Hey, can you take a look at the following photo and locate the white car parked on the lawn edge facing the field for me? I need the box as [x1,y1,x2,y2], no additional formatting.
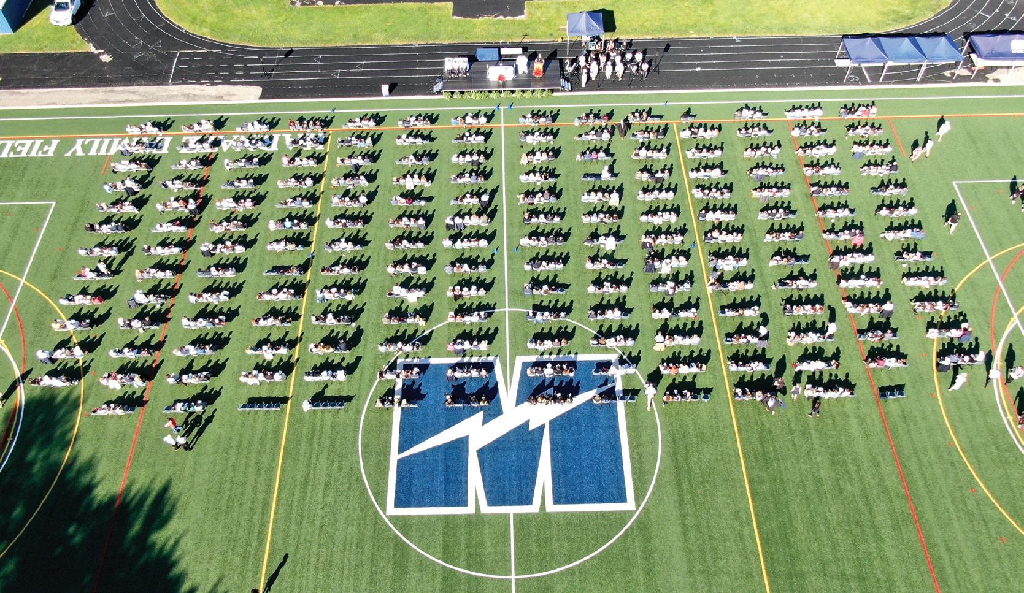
[50,0,83,24]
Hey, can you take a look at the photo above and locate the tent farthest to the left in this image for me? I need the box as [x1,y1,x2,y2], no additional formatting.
[565,13,605,55]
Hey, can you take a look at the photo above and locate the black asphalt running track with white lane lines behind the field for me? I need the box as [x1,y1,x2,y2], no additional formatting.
[0,0,1024,105]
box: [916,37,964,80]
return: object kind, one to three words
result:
tent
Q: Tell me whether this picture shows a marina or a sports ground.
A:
sports ground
